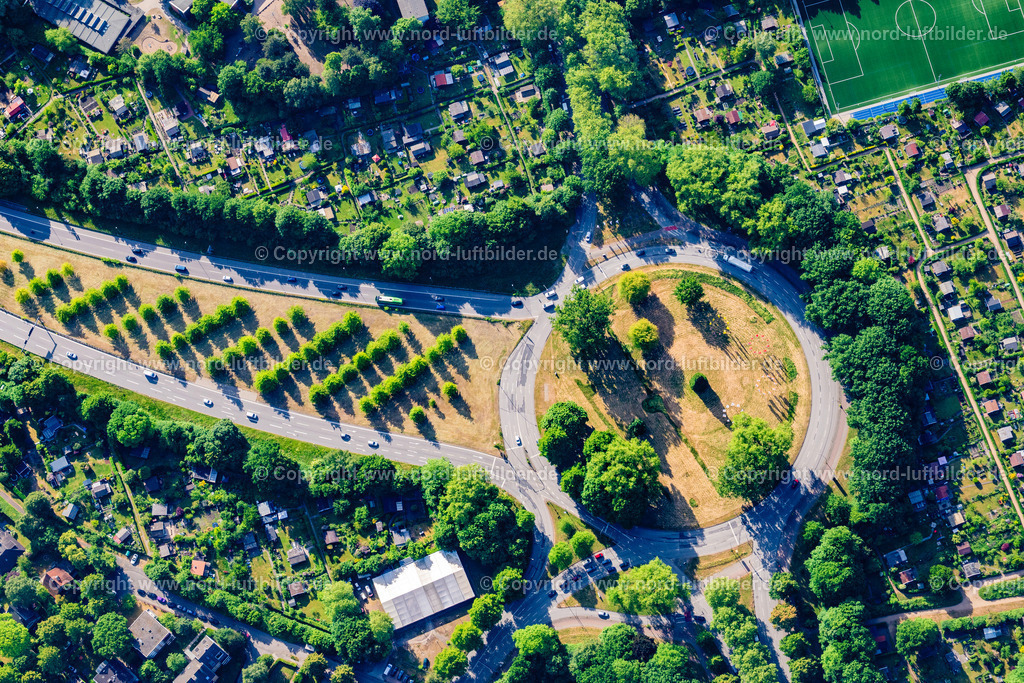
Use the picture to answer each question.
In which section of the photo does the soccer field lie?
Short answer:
top right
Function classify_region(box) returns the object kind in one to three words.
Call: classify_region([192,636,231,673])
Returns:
house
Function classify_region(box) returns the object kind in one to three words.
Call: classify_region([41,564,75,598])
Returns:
house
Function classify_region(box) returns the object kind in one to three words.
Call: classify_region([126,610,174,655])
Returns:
building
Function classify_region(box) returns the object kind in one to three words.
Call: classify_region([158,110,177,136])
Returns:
shed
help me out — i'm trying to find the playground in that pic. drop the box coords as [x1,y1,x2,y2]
[131,10,182,56]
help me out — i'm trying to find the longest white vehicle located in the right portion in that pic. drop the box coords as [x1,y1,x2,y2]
[723,255,754,272]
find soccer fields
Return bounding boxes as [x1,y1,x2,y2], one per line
[800,0,1024,114]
